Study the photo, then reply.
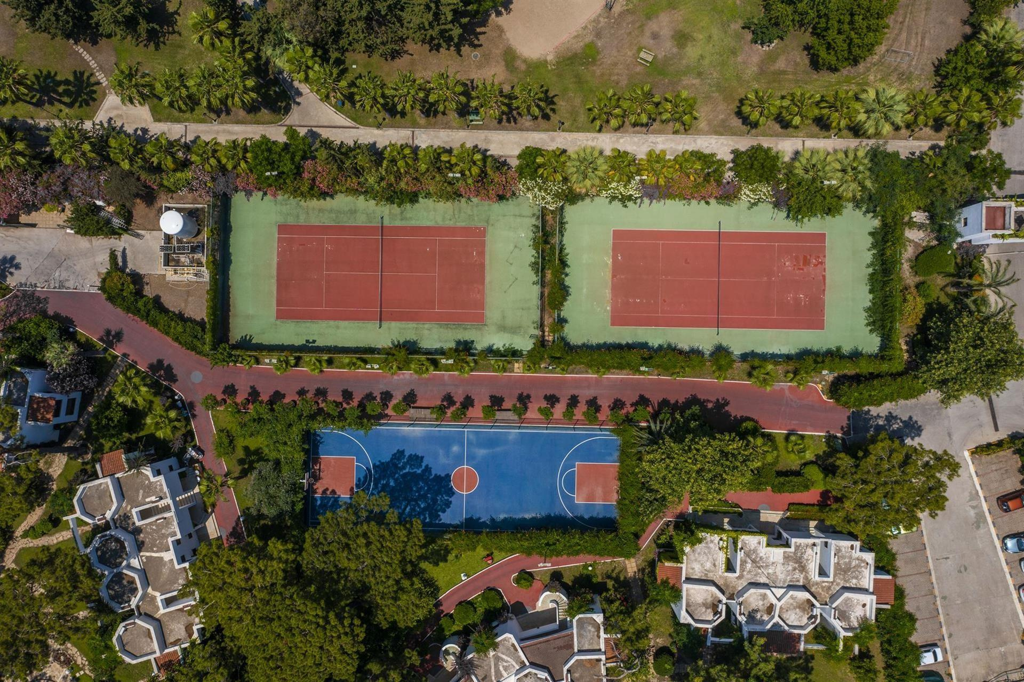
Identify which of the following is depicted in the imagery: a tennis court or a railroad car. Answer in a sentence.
This aerial view contains a tennis court.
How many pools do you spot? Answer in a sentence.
Not a single pool can be seen.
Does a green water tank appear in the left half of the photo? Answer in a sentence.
No, no green water tank can be made out in the left half of the photo.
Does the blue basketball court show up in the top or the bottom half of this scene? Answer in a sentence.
The bottom half of the photo is where the blue basketball court is.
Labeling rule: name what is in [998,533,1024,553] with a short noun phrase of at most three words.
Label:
car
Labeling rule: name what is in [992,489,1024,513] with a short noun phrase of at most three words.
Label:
car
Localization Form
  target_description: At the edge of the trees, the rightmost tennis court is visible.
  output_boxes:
[555,195,878,359]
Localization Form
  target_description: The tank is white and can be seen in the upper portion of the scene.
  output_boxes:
[160,210,197,239]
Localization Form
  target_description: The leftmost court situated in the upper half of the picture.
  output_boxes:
[229,188,538,355]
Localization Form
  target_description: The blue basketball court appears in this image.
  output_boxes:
[305,422,623,533]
